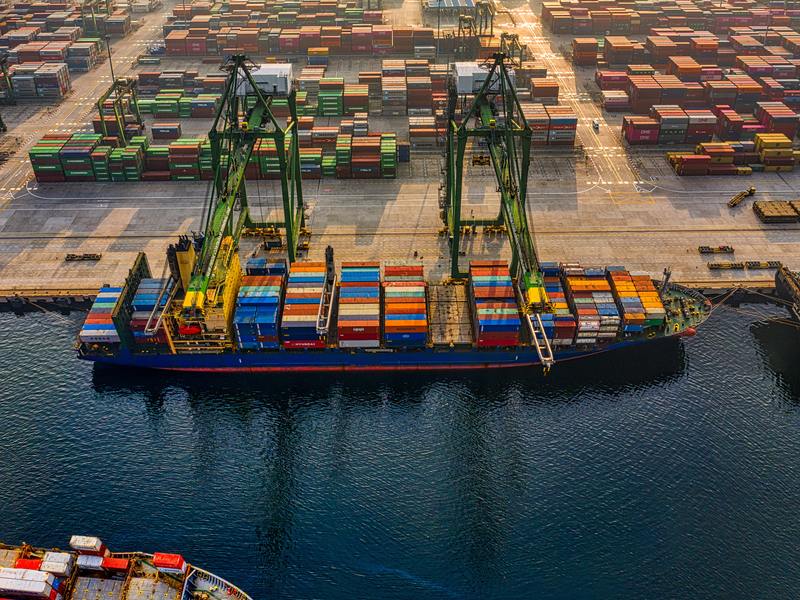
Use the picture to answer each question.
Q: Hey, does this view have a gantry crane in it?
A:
Yes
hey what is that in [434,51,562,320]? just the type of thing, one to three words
container crane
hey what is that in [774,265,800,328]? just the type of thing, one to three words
ship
